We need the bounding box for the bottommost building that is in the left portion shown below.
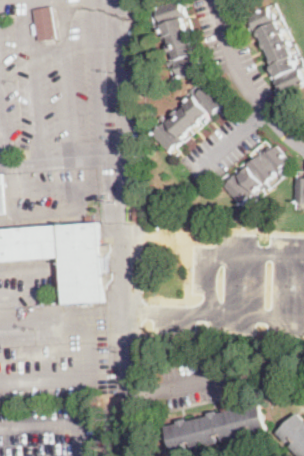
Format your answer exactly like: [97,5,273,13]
[0,224,112,306]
